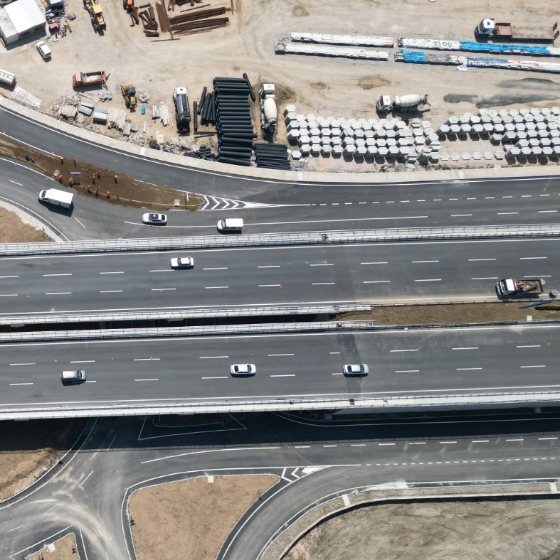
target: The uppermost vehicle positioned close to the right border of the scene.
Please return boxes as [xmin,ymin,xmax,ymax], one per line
[470,20,560,41]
